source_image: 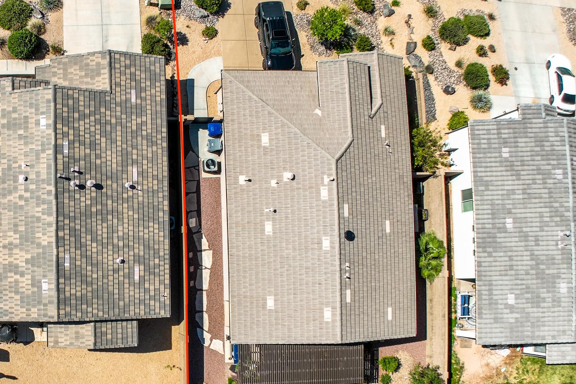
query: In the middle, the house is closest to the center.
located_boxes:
[218,51,417,345]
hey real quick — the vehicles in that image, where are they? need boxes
[540,52,576,119]
[252,0,297,70]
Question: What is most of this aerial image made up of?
buildings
